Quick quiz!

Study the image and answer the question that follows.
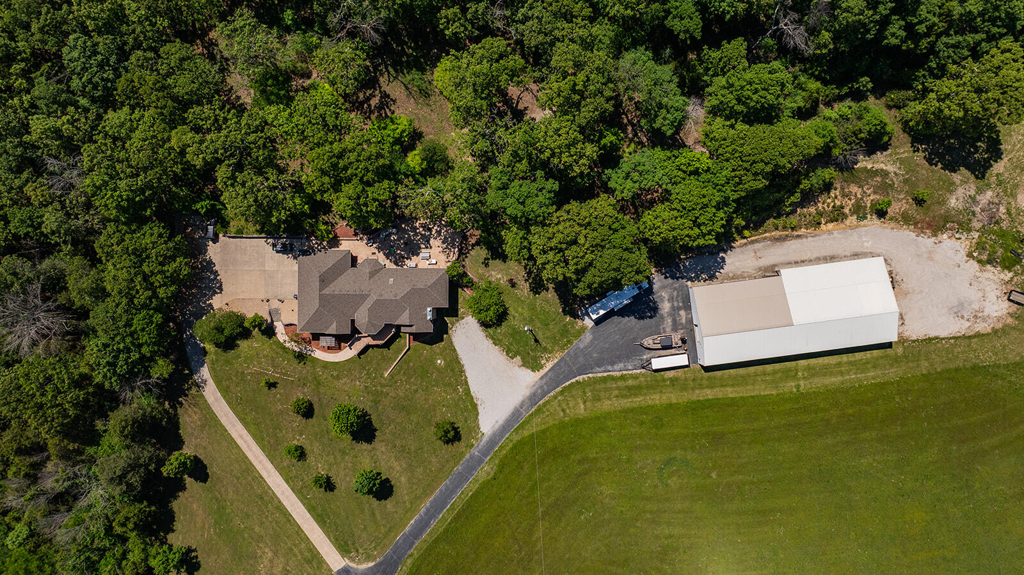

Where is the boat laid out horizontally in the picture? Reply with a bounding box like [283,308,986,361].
[640,333,687,349]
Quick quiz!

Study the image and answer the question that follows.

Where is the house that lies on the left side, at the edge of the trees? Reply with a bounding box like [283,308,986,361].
[297,249,450,335]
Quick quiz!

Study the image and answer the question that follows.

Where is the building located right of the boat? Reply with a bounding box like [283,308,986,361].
[688,256,901,368]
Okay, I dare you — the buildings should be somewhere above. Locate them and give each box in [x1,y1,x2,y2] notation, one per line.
[688,256,901,368]
[297,249,450,335]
